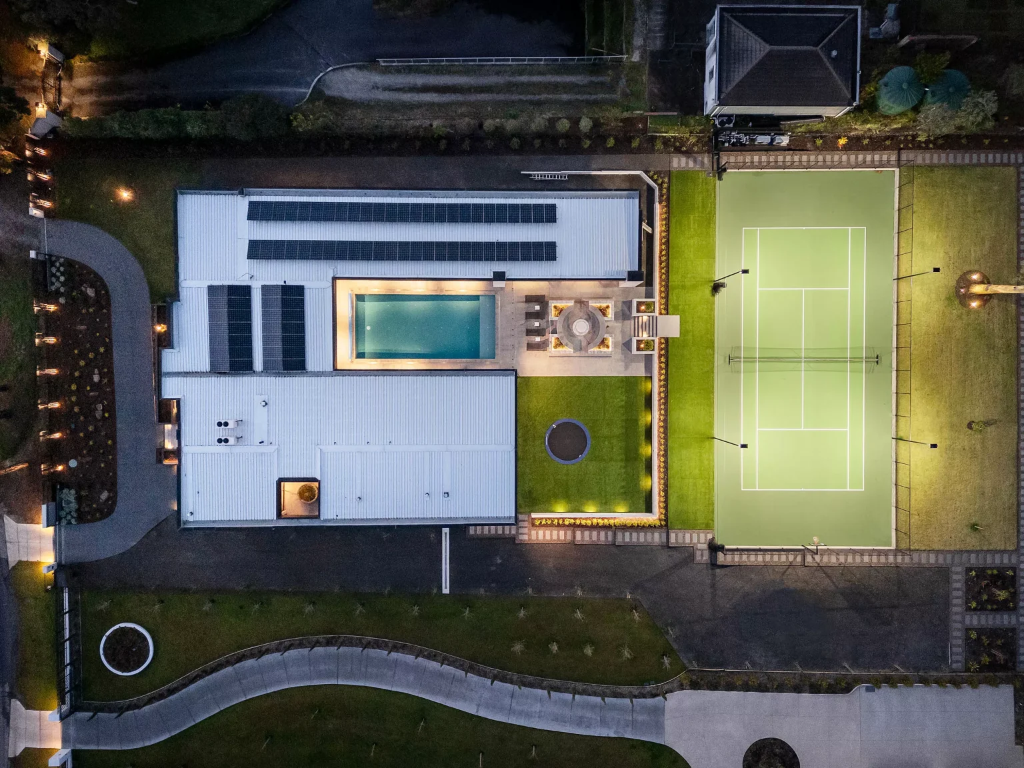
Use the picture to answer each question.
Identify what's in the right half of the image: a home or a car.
home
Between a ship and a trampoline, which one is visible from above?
trampoline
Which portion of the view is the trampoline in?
center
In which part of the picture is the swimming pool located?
center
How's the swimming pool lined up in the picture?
from left to right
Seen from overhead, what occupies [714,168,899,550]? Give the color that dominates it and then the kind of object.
green tennis court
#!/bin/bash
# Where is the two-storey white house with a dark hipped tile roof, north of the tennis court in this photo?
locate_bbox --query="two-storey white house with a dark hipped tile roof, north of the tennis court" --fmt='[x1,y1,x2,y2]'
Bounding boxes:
[706,0,863,127]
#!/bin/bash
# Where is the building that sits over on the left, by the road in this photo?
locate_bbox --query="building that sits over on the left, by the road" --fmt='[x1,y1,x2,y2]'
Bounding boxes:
[160,186,643,529]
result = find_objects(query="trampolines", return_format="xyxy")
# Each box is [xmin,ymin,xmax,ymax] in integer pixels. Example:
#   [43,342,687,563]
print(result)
[545,418,591,463]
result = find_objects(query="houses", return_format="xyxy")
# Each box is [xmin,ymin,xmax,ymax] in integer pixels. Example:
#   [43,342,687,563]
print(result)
[706,0,863,127]
[160,186,643,529]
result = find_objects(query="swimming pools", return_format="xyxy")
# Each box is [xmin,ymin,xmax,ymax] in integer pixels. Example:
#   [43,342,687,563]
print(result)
[351,290,499,364]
